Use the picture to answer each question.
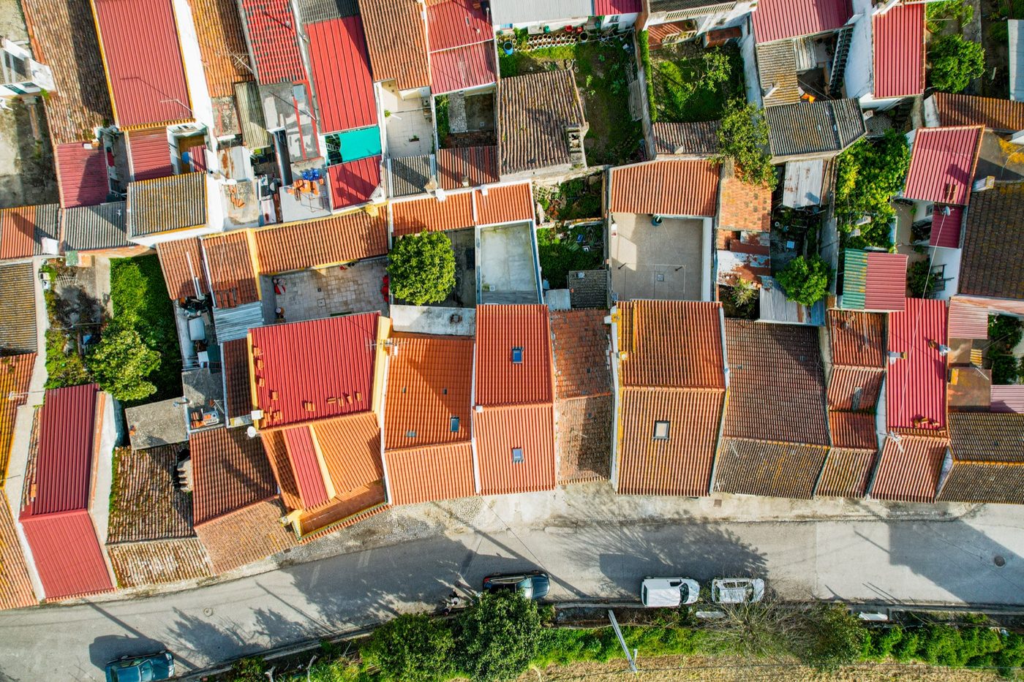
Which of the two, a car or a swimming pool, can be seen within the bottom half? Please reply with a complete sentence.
The feature located within the bottom half is a car.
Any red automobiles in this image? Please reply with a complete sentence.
No, I can't see a single red automobile in this photo.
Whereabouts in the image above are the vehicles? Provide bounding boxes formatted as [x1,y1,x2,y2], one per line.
[107,645,181,682]
[638,575,698,608]
[709,573,764,604]
[482,569,551,603]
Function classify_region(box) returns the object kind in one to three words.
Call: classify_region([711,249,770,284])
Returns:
building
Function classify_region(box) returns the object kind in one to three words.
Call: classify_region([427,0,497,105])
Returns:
house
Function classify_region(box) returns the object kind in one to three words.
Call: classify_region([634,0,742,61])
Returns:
house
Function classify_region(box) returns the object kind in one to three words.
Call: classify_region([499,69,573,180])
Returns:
building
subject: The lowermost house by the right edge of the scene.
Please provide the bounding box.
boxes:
[933,410,1024,507]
